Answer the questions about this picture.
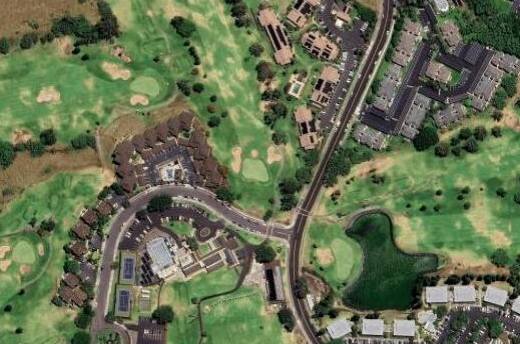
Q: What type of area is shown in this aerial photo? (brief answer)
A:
golf course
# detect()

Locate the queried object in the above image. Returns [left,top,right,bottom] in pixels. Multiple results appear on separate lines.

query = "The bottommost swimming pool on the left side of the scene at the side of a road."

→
[161,163,176,182]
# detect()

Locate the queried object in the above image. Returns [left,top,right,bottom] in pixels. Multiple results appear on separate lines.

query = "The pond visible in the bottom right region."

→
[344,209,439,312]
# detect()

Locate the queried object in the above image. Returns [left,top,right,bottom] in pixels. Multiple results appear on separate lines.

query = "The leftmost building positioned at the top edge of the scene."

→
[257,6,294,66]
